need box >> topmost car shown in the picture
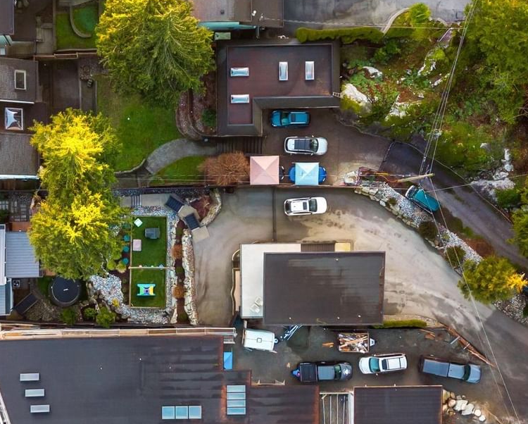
[271,109,315,128]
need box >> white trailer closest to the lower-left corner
[242,327,284,355]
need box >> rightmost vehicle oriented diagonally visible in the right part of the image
[403,180,450,219]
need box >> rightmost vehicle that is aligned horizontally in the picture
[421,358,486,384]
